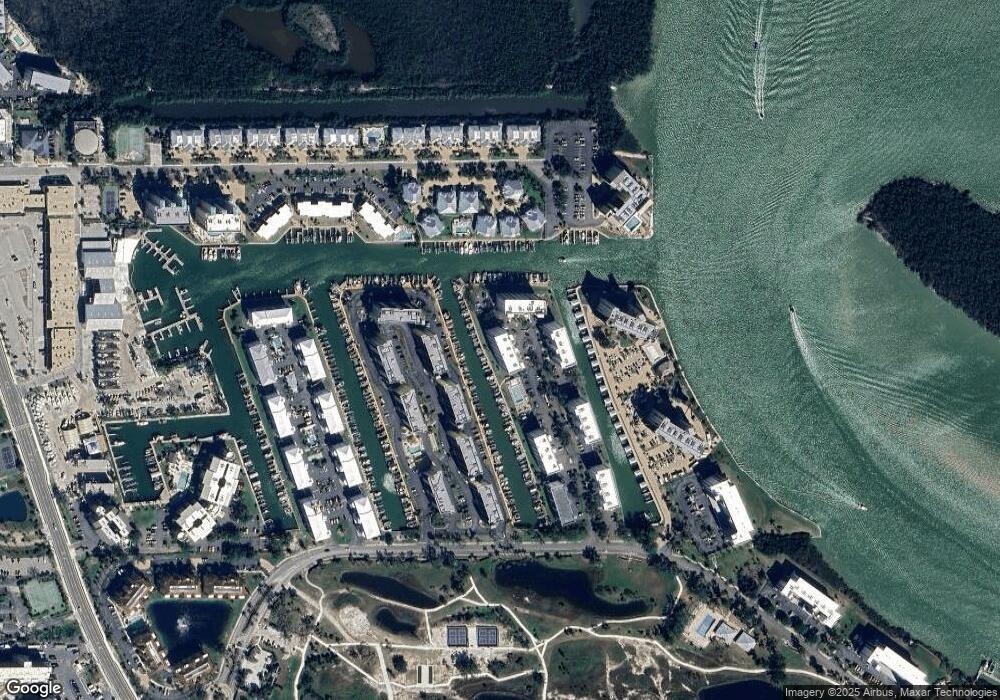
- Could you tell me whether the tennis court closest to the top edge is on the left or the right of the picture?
left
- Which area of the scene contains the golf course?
bottom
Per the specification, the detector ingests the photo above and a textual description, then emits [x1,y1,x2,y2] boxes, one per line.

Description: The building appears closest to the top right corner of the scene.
[601,165,648,222]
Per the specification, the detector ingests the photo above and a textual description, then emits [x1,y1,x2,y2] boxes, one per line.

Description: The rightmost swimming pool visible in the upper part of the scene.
[624,215,643,234]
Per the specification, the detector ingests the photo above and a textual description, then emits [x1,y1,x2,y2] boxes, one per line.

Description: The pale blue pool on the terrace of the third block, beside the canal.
[508,382,525,404]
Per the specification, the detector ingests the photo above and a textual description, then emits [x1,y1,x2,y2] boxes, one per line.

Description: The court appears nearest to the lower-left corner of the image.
[25,579,64,615]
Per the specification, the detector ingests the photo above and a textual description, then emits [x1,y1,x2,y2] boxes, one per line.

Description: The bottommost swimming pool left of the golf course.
[124,610,144,624]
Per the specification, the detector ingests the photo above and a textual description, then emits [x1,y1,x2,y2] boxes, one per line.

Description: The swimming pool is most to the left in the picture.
[10,29,27,49]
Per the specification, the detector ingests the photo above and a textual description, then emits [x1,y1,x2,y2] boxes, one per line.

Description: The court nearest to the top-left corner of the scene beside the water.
[117,126,145,154]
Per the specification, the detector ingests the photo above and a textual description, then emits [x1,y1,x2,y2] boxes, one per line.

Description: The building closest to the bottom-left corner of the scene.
[0,660,52,688]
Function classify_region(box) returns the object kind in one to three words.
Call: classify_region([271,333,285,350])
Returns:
swimming pool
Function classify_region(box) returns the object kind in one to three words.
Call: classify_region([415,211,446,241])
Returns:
house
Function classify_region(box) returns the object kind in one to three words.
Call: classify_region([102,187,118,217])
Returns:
tennis court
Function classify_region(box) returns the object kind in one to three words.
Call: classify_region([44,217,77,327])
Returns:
building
